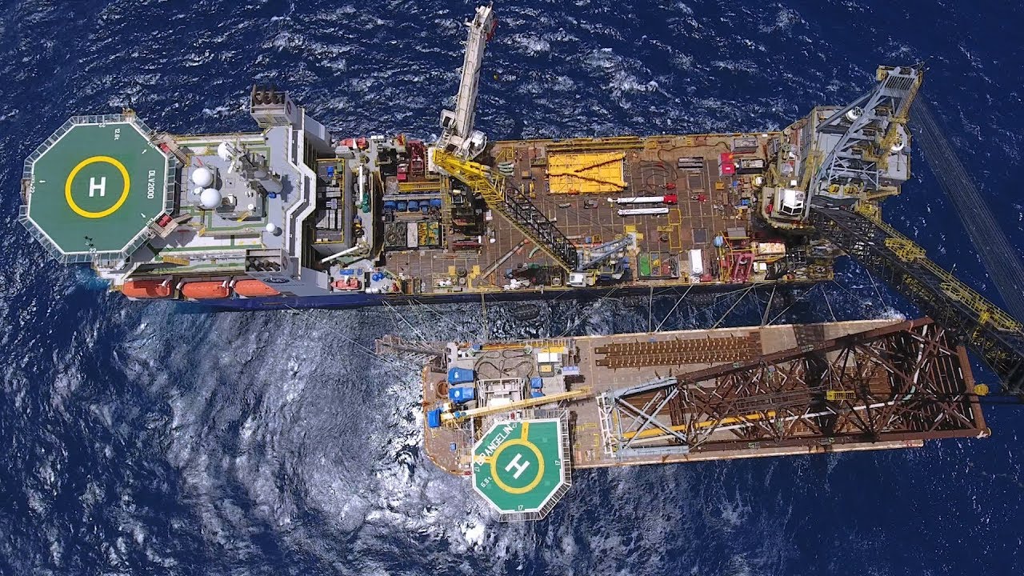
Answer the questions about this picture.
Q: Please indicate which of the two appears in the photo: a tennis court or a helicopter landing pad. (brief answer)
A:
helicopter landing pad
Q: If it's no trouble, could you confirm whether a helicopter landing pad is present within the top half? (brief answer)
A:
Yes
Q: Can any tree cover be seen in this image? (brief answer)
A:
No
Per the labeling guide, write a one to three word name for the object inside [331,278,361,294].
boat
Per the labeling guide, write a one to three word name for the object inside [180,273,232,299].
boat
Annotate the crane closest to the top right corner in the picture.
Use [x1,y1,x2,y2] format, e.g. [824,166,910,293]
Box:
[754,55,1024,400]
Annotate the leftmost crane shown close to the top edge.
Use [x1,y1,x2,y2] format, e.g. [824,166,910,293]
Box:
[426,6,494,184]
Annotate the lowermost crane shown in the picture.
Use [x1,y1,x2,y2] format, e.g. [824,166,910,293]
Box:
[437,386,594,438]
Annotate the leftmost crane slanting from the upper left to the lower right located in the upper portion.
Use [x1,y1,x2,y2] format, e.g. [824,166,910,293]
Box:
[436,148,637,285]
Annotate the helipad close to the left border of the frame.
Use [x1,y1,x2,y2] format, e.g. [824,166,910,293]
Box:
[18,108,183,263]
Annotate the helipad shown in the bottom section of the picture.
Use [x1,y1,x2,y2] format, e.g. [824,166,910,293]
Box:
[462,400,570,520]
